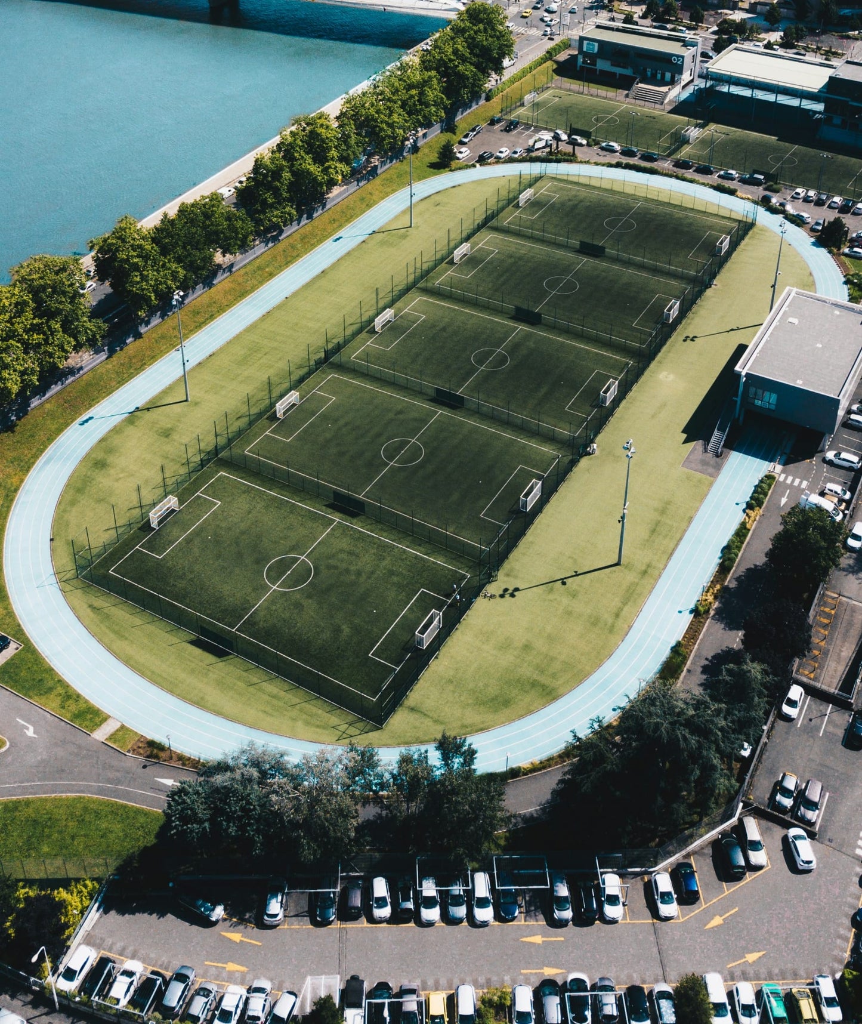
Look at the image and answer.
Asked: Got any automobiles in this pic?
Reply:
Yes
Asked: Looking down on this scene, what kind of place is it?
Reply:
sports ground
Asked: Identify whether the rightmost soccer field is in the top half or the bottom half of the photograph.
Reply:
top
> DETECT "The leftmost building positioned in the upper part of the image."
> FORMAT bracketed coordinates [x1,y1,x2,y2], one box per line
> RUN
[578,19,710,98]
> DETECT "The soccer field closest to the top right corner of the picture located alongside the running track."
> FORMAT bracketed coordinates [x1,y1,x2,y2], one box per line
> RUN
[679,120,862,196]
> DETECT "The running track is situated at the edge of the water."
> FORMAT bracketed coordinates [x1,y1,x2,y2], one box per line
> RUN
[8,161,848,787]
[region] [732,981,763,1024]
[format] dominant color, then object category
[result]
white car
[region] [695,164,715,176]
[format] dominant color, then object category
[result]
black vehicle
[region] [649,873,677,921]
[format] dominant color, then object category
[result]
white car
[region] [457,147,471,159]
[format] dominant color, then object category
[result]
white vehicle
